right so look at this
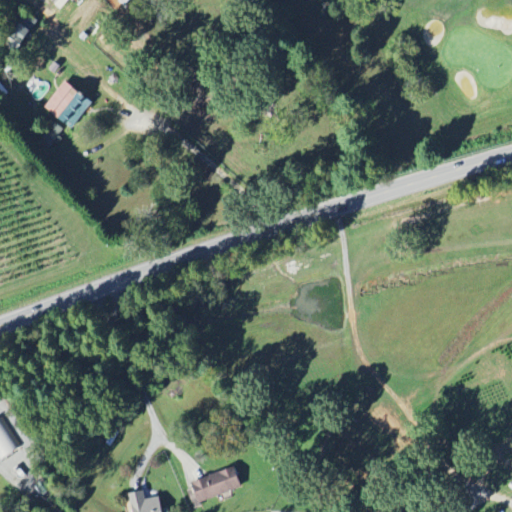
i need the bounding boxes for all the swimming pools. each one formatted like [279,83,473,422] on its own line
[27,76,50,101]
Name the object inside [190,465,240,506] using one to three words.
house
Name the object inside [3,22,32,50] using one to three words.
house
